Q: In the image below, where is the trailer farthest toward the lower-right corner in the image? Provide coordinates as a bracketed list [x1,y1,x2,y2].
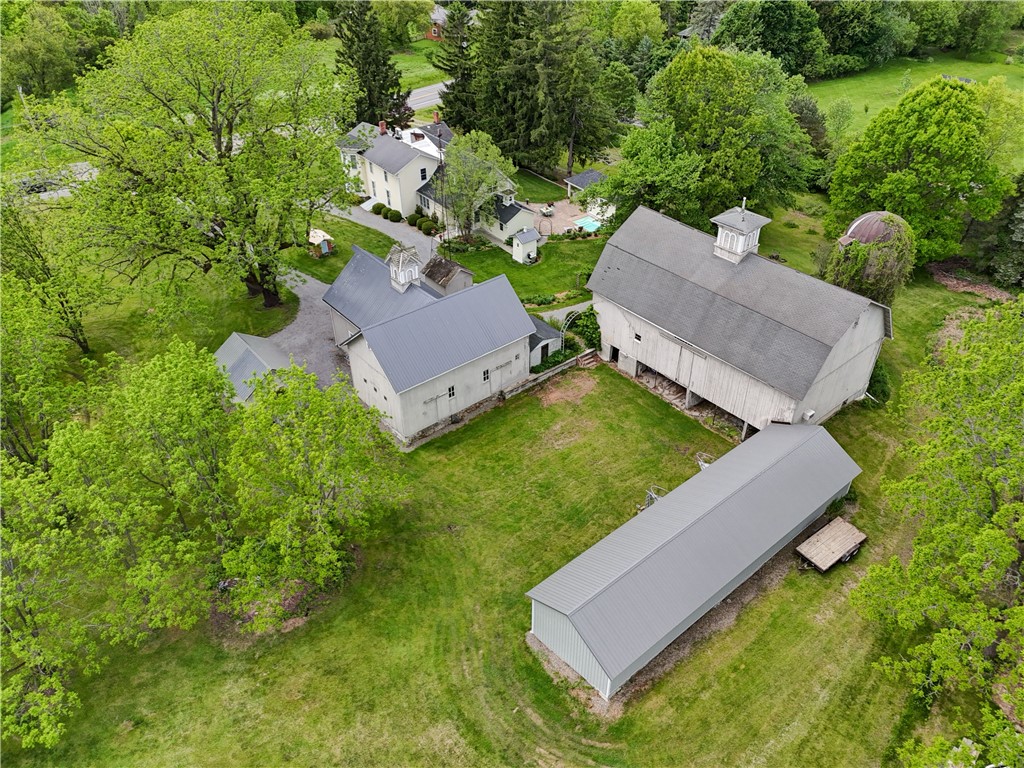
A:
[796,516,867,572]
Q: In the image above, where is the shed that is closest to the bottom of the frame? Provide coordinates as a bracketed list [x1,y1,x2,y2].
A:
[525,423,857,705]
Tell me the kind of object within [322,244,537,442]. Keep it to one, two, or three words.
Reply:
barn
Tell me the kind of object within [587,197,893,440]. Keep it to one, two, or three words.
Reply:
barn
